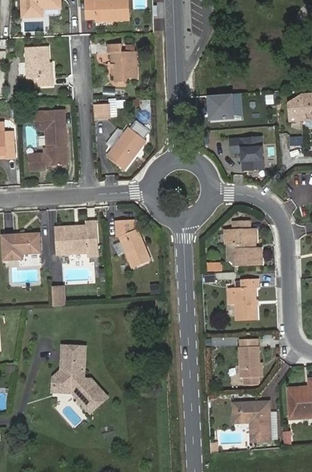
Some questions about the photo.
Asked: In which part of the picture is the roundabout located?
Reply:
center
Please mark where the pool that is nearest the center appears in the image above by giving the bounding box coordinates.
[65,267,91,282]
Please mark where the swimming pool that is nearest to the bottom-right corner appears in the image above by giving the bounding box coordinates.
[220,431,243,444]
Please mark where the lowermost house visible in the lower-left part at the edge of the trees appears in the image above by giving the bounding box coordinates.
[50,344,110,414]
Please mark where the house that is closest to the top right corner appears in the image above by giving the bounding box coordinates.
[288,93,312,122]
